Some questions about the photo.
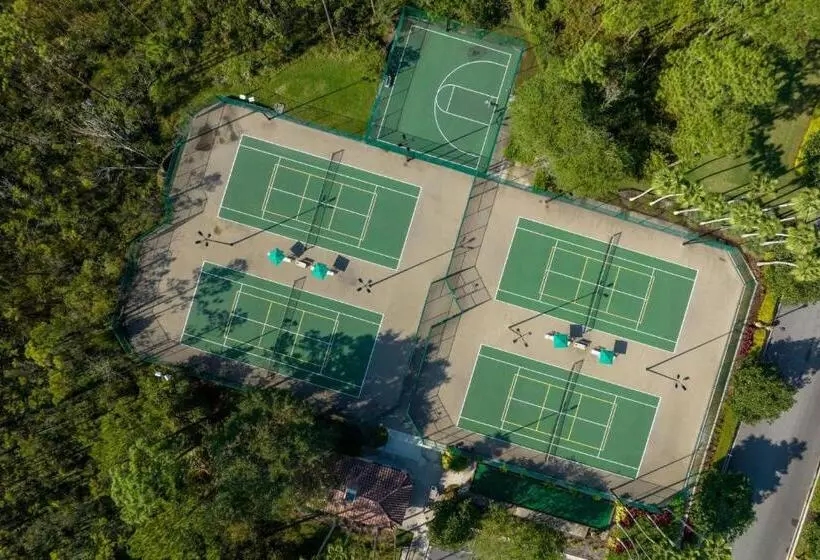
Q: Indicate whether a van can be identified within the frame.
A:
No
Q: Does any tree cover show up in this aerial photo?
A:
Yes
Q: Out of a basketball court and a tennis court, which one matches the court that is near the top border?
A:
basketball court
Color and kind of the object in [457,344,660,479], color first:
green tennis court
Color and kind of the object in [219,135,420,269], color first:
green tennis court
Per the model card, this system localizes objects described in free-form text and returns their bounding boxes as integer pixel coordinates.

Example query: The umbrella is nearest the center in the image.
[312,263,330,280]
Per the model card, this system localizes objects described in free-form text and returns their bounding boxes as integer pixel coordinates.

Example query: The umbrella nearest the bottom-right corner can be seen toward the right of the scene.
[599,350,614,365]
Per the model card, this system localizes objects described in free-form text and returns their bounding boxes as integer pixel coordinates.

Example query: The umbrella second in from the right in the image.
[553,334,568,348]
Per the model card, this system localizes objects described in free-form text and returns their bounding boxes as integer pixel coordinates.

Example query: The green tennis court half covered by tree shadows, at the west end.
[181,262,383,397]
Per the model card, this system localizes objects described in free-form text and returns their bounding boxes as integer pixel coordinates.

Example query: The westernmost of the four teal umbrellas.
[267,248,287,267]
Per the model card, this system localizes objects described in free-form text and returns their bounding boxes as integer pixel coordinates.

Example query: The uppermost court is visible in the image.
[368,17,519,179]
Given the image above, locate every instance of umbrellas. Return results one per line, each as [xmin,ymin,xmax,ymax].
[553,334,568,348]
[312,263,330,280]
[599,350,614,365]
[267,248,287,267]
